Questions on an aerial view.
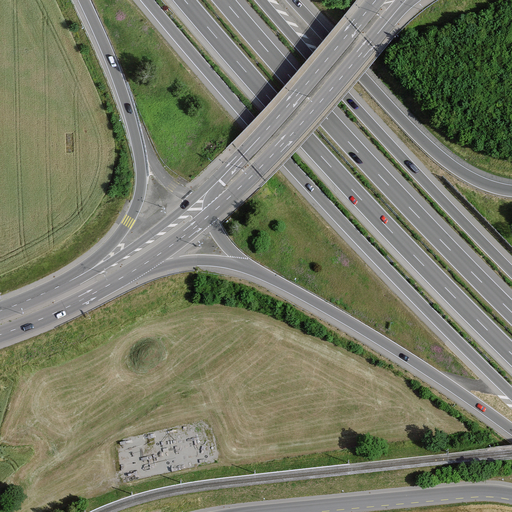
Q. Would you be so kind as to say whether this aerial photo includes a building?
No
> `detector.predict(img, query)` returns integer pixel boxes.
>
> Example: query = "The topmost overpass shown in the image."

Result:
[190,0,394,190]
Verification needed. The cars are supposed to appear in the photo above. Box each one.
[347,98,357,108]
[399,353,409,361]
[55,310,66,318]
[349,196,358,205]
[476,404,486,412]
[406,160,417,172]
[350,152,362,164]
[108,54,116,66]
[21,324,32,330]
[305,182,314,192]
[380,214,389,224]
[293,0,303,8]
[180,200,190,208]
[124,102,132,114]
